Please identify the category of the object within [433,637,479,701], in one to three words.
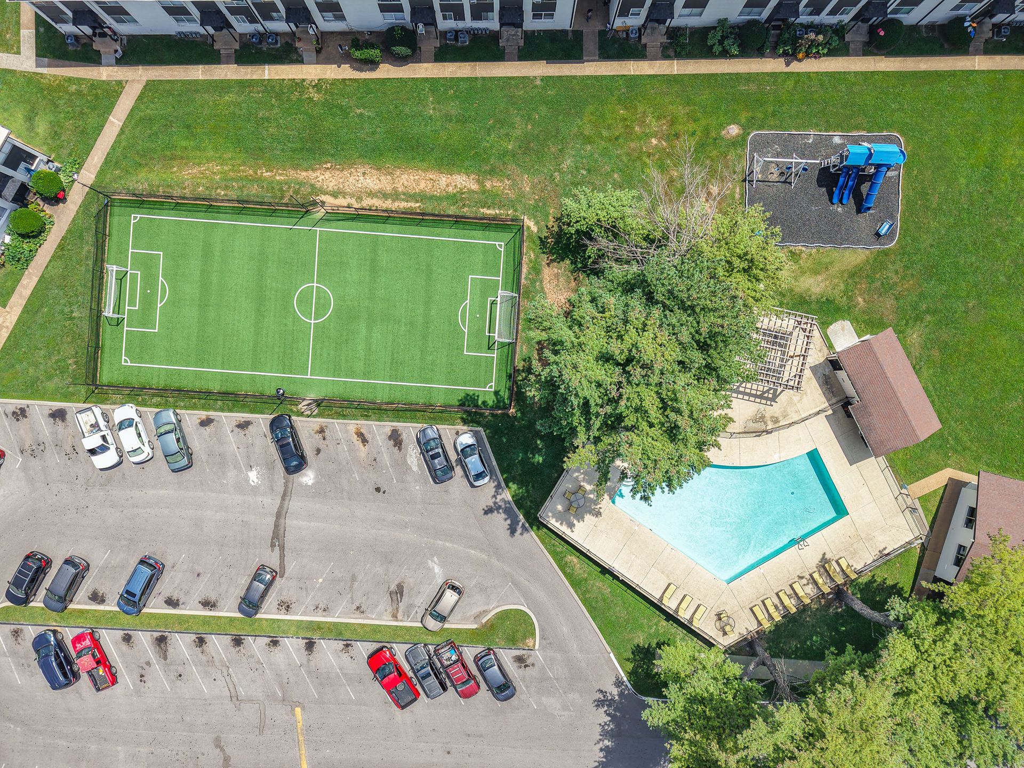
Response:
truck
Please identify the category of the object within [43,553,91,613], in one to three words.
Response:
car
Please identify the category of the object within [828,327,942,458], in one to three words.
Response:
building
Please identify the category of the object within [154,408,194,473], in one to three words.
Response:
car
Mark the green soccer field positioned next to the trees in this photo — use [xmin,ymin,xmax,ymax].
[92,196,524,411]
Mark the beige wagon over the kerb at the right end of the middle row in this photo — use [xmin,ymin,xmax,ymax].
[422,576,466,633]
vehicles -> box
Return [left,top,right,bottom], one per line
[433,637,479,701]
[34,627,79,695]
[43,553,91,613]
[7,549,52,608]
[118,554,165,617]
[369,645,421,712]
[115,402,156,466]
[154,408,194,473]
[422,576,466,633]
[238,563,279,618]
[75,404,122,471]
[74,627,119,694]
[456,430,490,489]
[406,641,447,704]
[474,645,515,702]
[418,423,454,486]
[271,413,308,476]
